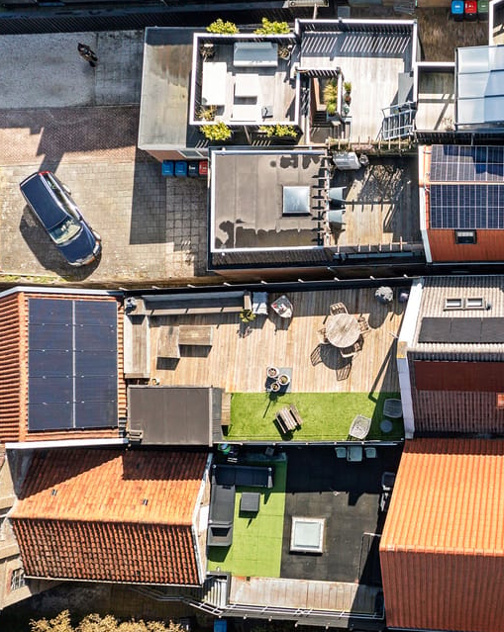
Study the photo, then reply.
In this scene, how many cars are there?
1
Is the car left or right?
left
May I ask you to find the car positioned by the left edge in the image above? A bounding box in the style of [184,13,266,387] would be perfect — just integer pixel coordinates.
[20,166,100,262]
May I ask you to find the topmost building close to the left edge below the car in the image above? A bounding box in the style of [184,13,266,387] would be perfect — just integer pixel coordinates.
[0,282,128,442]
